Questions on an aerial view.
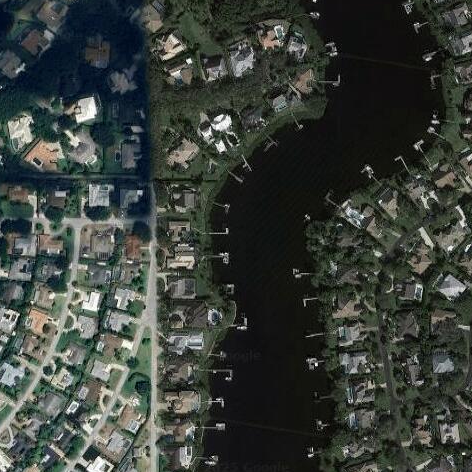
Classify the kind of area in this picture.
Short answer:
residential area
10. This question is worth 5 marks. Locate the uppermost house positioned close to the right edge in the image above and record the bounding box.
[444,7,471,27]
